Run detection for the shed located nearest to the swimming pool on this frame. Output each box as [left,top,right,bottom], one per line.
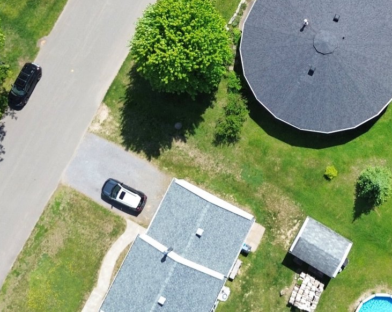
[288,215,353,279]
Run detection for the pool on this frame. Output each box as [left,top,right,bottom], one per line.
[354,290,392,312]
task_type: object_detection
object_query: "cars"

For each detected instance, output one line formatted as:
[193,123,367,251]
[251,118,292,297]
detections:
[100,181,150,213]
[11,59,45,112]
